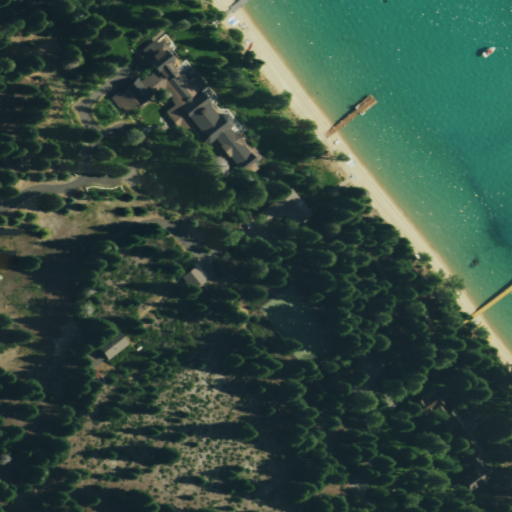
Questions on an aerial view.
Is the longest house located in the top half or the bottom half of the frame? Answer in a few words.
top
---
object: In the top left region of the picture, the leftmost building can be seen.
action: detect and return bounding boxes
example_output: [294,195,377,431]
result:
[112,92,140,113]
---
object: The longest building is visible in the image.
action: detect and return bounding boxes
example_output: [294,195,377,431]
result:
[130,34,263,172]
